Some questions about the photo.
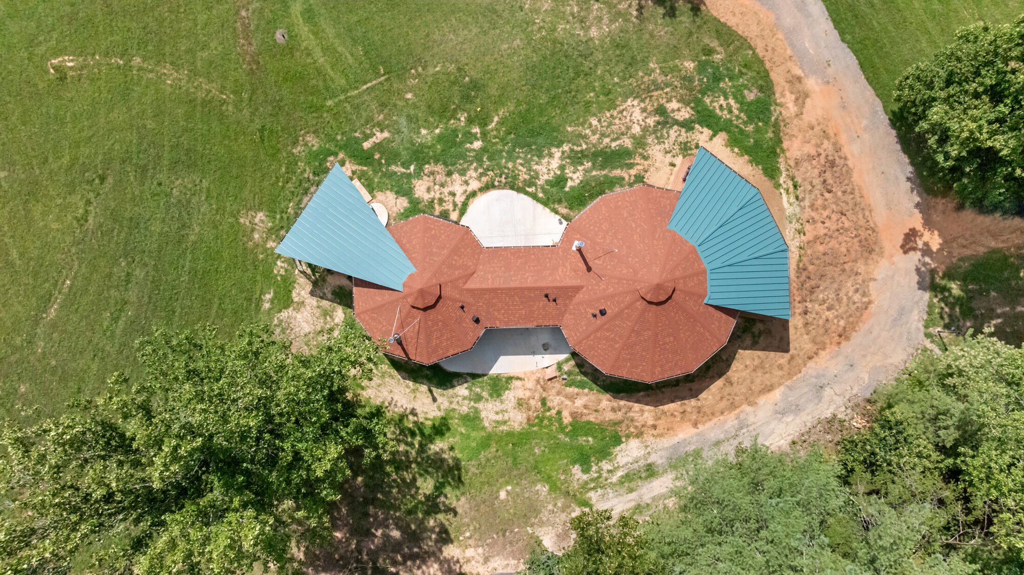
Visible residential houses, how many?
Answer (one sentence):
I count just 1 residential house.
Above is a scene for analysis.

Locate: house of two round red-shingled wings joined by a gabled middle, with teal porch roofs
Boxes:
[275,146,794,385]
